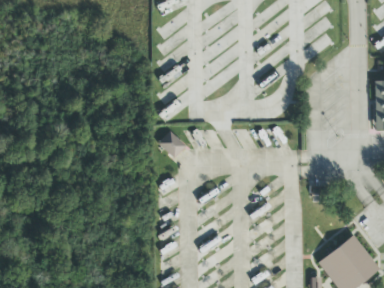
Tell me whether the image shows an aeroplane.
No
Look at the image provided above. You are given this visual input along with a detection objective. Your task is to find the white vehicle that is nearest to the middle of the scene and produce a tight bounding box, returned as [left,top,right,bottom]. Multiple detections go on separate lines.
[192,130,207,148]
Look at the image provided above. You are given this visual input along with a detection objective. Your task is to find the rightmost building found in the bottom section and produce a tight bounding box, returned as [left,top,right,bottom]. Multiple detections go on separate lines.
[320,236,378,288]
